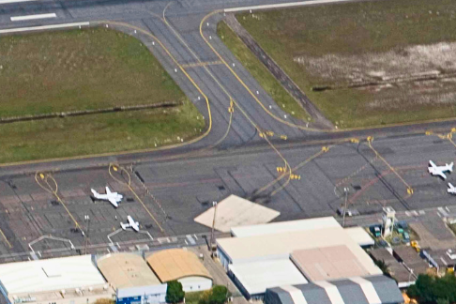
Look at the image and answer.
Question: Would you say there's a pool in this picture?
No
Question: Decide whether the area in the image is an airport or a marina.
airport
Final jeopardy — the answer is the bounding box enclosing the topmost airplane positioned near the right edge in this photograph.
[428,161,456,176]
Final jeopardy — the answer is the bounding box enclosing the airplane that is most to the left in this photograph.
[89,186,122,205]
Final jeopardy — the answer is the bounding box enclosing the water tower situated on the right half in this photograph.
[382,208,399,239]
